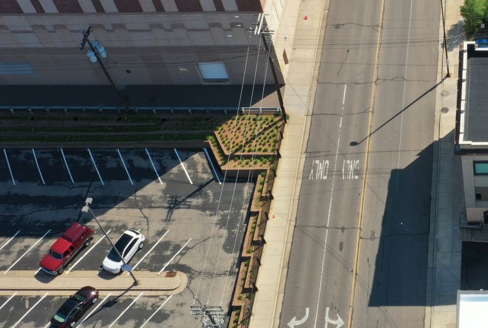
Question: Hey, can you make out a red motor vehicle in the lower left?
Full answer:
Yes, you'll find a red motor vehicle in the lower left.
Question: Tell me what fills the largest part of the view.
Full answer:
What you mostly see from above here is paved ground.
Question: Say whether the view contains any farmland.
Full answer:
No, the picture contains no farmland.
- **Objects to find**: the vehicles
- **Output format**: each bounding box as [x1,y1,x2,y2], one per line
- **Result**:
[38,224,95,276]
[47,286,103,328]
[105,232,144,273]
